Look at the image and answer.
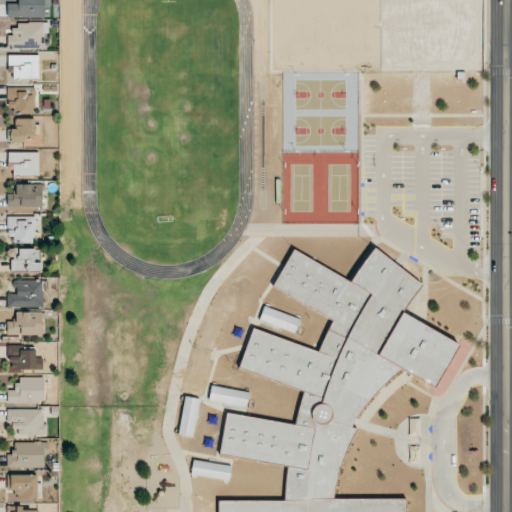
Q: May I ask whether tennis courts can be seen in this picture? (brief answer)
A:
Yes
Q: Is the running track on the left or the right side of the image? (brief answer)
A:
left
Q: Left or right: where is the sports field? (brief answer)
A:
left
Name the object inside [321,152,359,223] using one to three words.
tennis court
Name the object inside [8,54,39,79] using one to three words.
house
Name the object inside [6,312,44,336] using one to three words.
house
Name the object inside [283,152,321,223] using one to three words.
tennis court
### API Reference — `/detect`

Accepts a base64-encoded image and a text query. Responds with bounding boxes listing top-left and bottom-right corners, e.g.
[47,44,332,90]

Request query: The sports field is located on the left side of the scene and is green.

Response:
[97,0,239,265]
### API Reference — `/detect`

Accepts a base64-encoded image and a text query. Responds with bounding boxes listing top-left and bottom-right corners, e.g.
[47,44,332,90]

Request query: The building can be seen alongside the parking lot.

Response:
[218,247,460,512]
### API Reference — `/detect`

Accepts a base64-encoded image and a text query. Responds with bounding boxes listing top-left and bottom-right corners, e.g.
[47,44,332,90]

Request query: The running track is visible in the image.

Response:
[83,0,253,279]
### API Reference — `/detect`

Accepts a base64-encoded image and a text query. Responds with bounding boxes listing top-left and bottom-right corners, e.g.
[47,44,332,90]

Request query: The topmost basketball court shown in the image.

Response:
[283,72,359,113]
